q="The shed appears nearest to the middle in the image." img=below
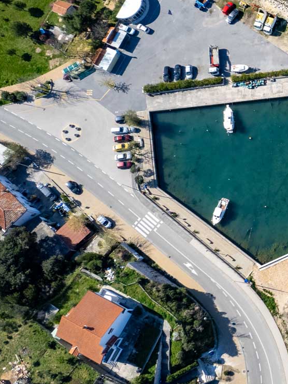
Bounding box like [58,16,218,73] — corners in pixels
[56,220,96,249]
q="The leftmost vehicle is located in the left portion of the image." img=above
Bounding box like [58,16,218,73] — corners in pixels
[36,182,56,200]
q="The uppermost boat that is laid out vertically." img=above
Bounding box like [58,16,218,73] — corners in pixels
[223,102,237,134]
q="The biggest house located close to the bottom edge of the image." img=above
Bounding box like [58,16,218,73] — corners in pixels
[52,286,162,371]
